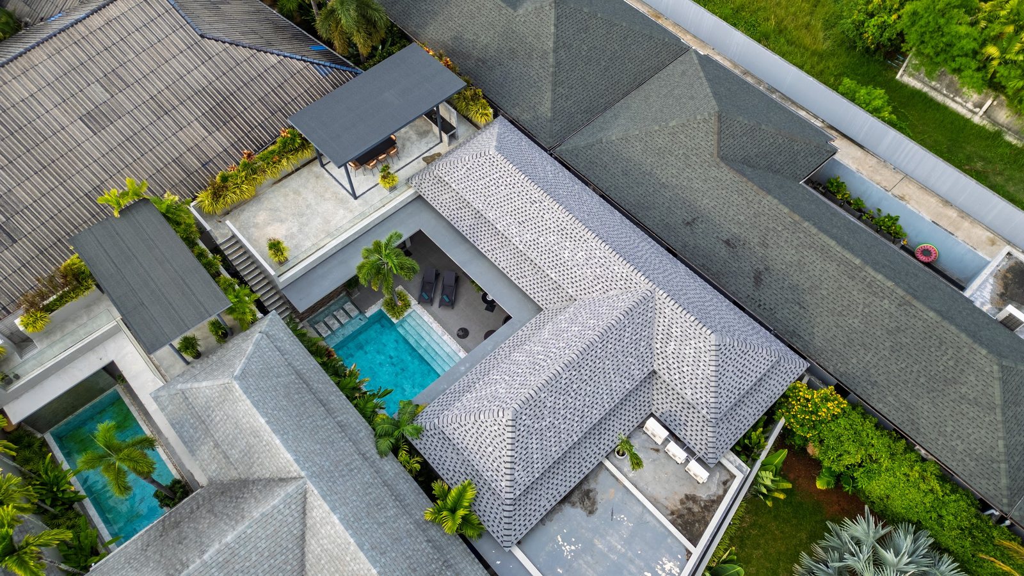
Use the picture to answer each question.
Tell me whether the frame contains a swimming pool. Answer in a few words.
Yes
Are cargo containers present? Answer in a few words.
No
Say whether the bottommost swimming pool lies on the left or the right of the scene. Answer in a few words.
left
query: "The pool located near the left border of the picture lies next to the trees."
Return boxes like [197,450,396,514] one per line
[43,379,201,556]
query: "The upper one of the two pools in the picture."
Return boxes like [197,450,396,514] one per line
[304,271,469,411]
